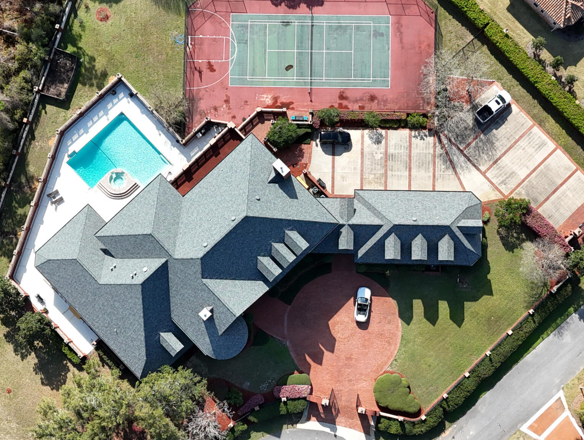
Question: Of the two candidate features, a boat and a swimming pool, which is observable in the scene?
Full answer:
Of the two, only a swimming pool appears.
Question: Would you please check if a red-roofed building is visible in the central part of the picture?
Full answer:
No, I can find no red-roofed building in the central part of the picture.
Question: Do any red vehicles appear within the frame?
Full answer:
No, there isn't any red vehicle down there.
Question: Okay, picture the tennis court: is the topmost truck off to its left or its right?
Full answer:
You can see the topmost truck positioned to the right of the tennis court.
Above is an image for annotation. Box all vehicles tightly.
[473,90,512,126]
[355,287,372,322]
[318,129,352,144]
